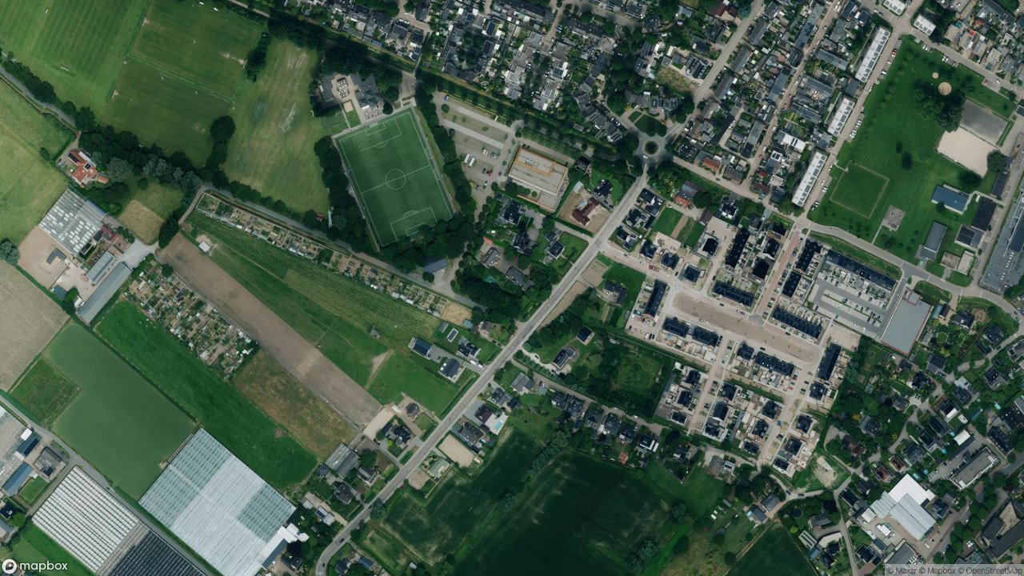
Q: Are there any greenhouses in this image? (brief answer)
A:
Yes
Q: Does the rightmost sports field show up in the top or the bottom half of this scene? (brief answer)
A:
top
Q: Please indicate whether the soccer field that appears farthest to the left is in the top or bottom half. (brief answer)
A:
top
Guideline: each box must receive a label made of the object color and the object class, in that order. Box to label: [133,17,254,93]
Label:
green soccer field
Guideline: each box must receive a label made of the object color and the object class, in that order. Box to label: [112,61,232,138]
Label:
green soccer field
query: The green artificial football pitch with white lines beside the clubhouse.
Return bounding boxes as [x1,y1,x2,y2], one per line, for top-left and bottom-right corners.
[334,107,454,248]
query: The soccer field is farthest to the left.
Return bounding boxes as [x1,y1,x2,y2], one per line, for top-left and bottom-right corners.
[27,3,128,77]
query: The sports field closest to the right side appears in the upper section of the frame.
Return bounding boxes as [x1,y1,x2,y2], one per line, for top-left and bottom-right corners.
[830,161,890,218]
